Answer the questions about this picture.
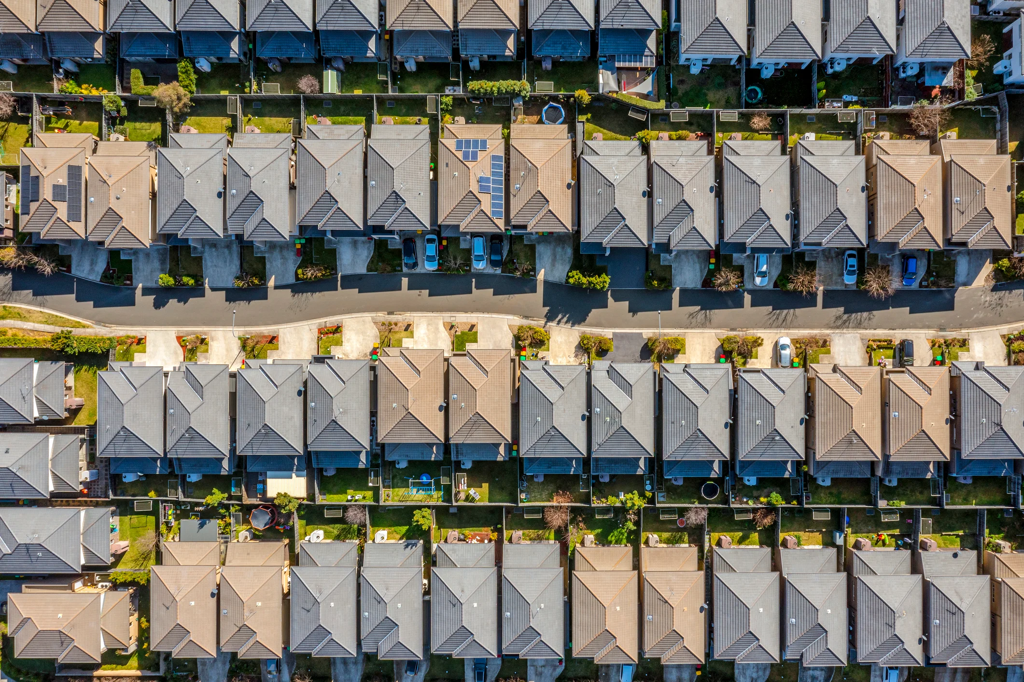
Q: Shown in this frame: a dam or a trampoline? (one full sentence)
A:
Looking from above, you can make out a trampoline.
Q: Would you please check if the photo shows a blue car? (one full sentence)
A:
Yes, the frame does contain a blue car.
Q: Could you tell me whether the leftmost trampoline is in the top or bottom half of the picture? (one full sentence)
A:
Seen from above, the leftmost trampoline lies in the bottom half of the view.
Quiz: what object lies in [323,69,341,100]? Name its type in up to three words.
shed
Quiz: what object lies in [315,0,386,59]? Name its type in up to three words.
house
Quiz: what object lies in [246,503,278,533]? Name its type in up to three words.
trampoline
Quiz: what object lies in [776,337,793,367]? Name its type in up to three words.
car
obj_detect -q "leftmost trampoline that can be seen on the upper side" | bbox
[542,100,565,124]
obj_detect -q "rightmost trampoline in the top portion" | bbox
[744,83,766,103]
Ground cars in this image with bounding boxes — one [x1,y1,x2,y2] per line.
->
[489,234,504,269]
[898,336,916,369]
[473,658,489,682]
[406,660,419,680]
[900,255,918,286]
[842,250,858,284]
[753,252,769,286]
[619,664,635,682]
[471,234,487,269]
[424,235,438,269]
[403,239,418,270]
[882,667,900,682]
[776,337,793,367]
[265,659,281,682]
[0,601,7,615]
